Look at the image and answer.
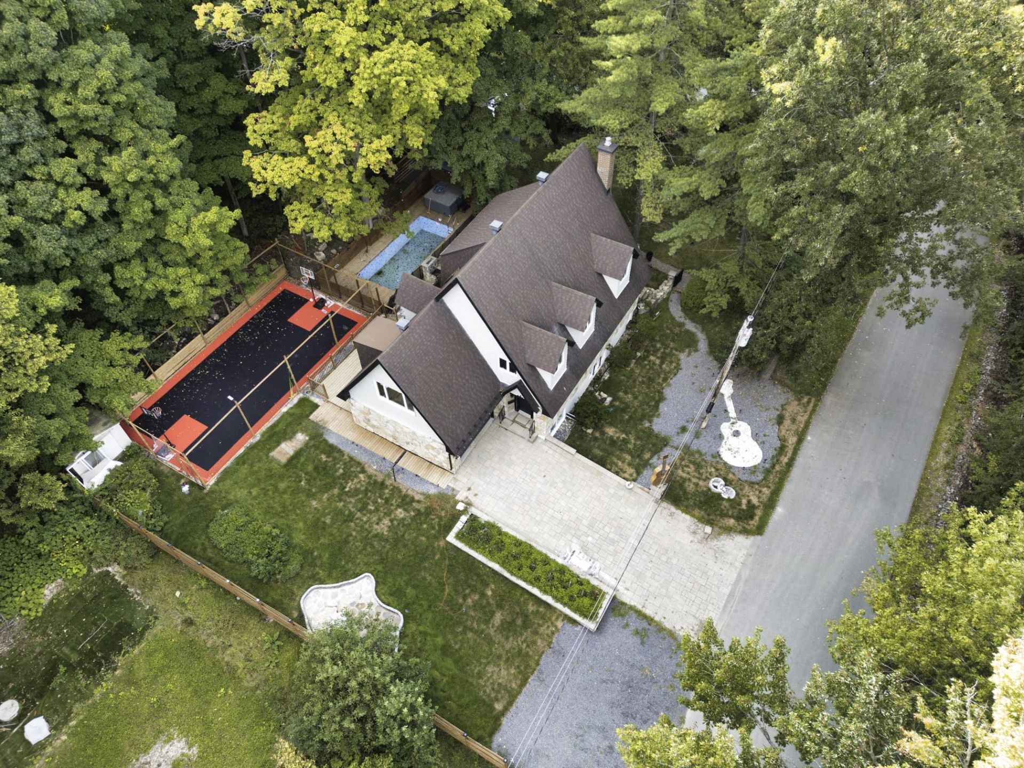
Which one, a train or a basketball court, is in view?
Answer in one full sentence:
The one in the frame is a basketball court.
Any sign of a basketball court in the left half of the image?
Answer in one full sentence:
Yes, I can see a basketball court in the left half of the image.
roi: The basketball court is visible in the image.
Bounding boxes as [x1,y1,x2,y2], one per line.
[110,278,368,484]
